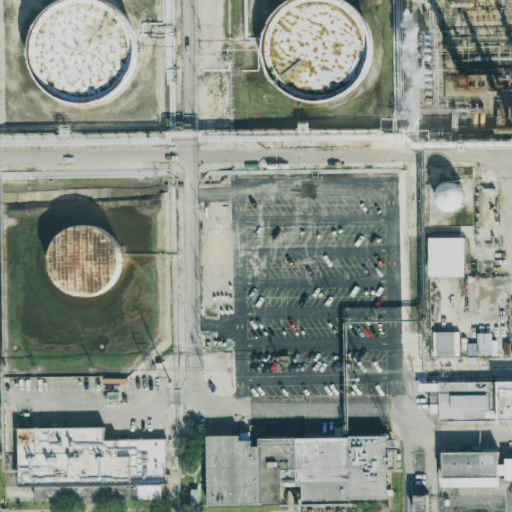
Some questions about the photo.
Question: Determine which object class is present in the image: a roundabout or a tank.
tank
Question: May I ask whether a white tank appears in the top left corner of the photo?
Yes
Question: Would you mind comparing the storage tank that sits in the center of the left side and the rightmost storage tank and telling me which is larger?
the storage tank that sits in the center of the left side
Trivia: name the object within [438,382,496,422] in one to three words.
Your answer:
building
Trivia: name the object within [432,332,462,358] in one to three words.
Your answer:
shed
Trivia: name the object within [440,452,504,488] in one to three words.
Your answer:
building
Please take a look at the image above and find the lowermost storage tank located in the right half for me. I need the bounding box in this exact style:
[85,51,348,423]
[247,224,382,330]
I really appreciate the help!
[432,182,468,214]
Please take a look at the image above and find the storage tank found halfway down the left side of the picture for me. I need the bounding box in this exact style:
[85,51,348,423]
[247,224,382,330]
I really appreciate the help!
[47,225,124,302]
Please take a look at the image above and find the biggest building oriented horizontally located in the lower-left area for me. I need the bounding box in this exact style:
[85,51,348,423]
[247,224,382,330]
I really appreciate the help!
[17,429,168,489]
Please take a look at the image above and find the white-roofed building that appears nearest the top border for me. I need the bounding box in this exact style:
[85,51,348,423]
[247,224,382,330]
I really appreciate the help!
[428,238,466,278]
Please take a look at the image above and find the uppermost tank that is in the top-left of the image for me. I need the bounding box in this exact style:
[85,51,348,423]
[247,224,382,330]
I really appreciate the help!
[26,0,138,107]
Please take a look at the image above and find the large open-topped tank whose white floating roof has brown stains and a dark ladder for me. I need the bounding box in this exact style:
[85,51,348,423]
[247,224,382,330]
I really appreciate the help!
[258,0,372,106]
